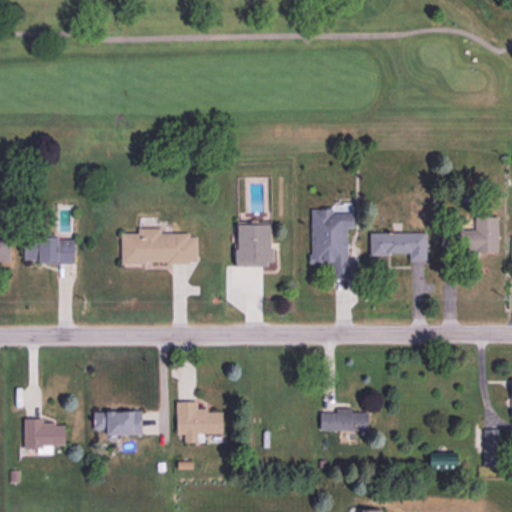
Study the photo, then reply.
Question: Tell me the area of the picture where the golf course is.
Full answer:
The golf course appears toward the top of the photo.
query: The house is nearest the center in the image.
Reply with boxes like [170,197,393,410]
[236,226,275,268]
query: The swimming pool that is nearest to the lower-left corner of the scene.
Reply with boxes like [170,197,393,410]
[122,441,137,453]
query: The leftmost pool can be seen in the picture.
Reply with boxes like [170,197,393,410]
[60,210,72,232]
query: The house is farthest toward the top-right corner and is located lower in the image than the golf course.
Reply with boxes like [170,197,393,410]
[462,218,502,254]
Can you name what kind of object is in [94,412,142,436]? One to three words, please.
house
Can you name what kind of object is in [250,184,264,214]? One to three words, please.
swimming pool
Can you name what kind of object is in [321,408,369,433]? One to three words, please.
house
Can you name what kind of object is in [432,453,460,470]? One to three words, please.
barn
